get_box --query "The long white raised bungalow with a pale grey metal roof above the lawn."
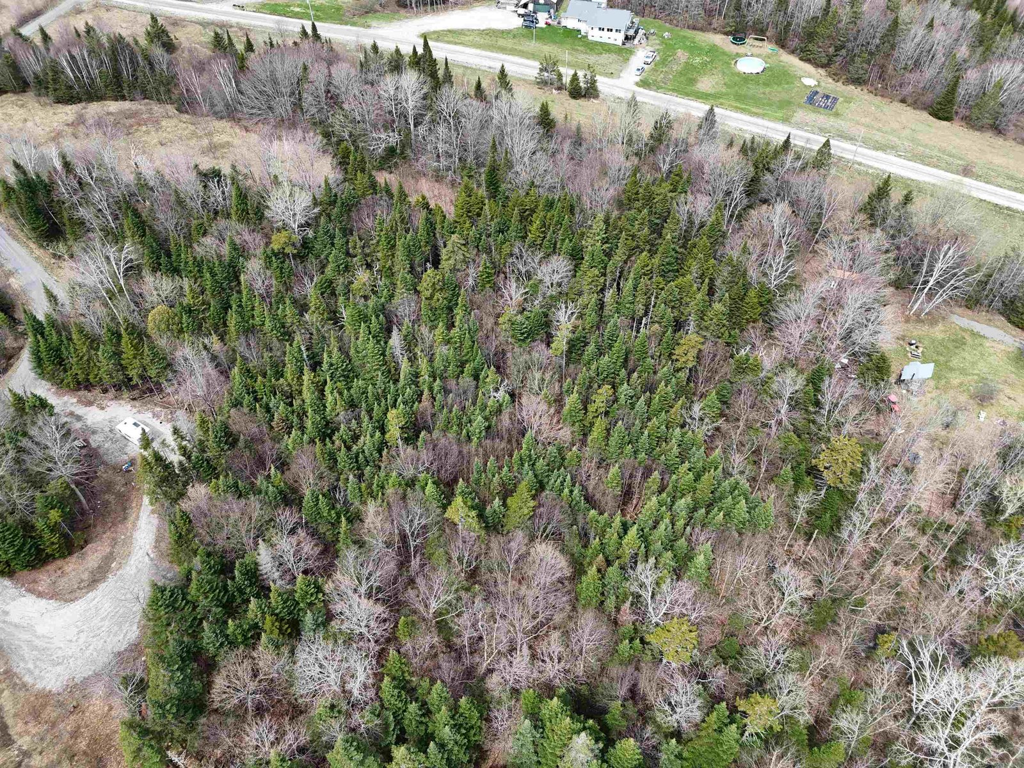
[563,0,632,43]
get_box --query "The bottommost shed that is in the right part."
[893,361,938,389]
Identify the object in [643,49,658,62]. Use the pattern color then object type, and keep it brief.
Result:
white vehicle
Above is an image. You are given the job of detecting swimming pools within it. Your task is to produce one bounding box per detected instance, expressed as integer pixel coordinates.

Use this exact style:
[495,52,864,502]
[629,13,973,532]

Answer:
[735,57,770,73]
